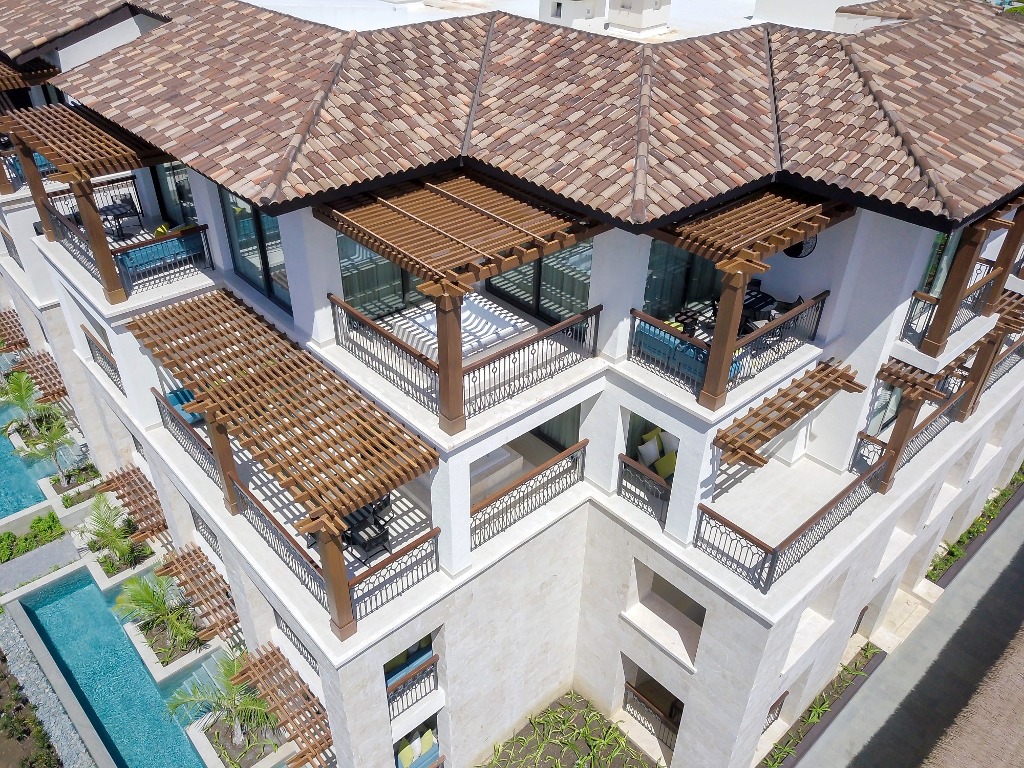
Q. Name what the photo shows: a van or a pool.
pool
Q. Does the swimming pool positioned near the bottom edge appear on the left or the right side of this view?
left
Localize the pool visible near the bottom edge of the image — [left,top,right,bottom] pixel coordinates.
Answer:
[37,568,237,768]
